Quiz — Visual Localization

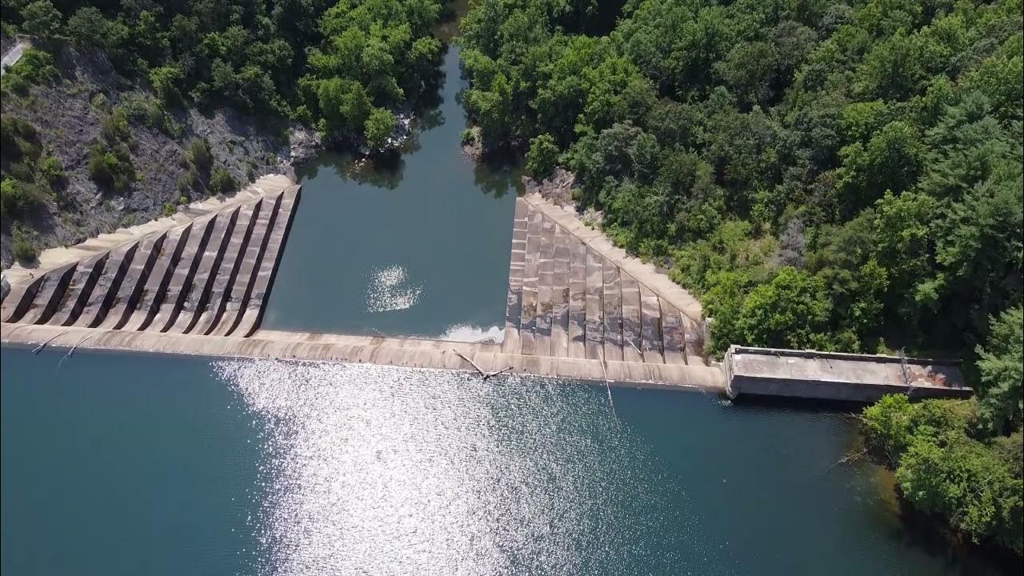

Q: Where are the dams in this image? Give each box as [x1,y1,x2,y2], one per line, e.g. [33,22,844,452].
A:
[0,171,716,387]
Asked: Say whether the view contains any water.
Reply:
Yes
